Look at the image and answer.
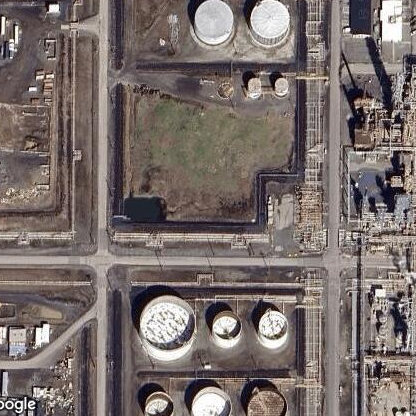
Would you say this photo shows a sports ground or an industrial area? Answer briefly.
industrial area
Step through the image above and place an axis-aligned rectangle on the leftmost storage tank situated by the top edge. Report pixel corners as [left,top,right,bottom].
[192,0,236,47]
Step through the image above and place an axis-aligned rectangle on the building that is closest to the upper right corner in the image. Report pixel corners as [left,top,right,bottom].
[380,0,401,46]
